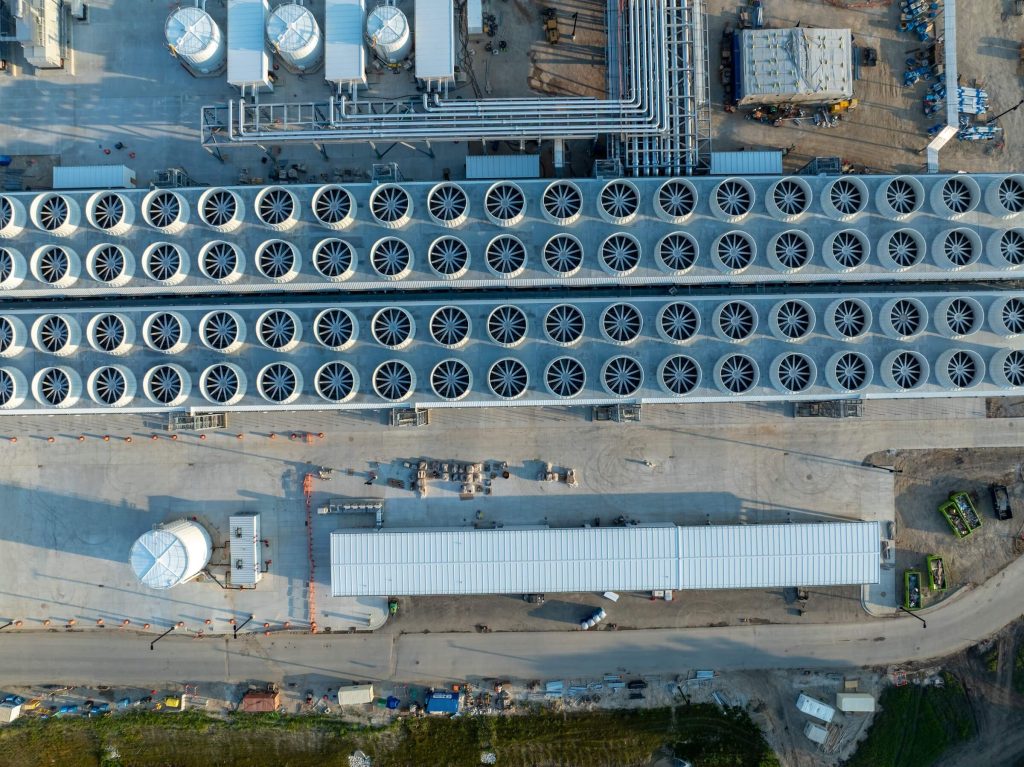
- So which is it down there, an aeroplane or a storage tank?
storage tank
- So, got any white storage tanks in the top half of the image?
Yes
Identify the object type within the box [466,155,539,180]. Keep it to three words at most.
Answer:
shed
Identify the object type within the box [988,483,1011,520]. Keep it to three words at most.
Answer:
truck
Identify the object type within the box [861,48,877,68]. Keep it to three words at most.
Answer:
work vehicle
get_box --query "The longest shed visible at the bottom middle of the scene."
[330,519,881,597]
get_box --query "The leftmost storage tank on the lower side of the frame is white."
[128,517,215,590]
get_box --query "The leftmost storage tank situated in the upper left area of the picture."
[161,2,228,74]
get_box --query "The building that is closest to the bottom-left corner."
[230,513,263,585]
